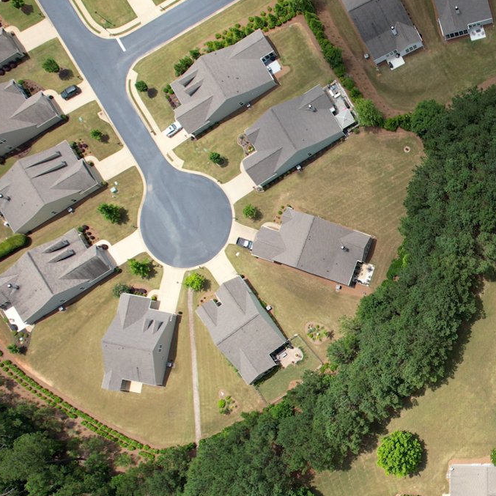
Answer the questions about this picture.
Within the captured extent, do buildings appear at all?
Yes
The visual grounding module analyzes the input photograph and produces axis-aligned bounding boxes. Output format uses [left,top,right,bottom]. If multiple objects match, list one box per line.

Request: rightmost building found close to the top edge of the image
[435,0,493,39]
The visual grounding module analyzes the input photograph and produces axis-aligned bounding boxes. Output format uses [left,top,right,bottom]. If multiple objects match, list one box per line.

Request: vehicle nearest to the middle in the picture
[230,235,251,250]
